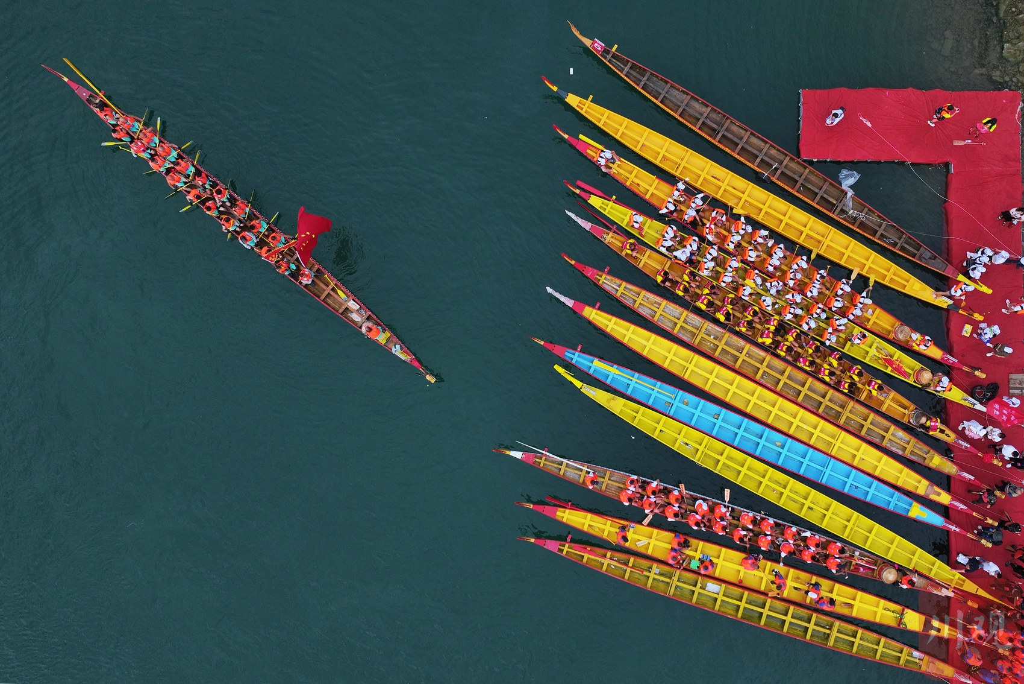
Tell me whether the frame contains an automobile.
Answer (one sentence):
No, the frame has no automobile in it.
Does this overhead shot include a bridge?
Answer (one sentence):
No, no bridge can be seen from above.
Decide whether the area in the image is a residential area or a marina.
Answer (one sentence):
The picture captures a marina.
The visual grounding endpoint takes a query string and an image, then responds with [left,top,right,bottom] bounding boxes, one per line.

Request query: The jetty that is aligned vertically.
[799,86,1024,684]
